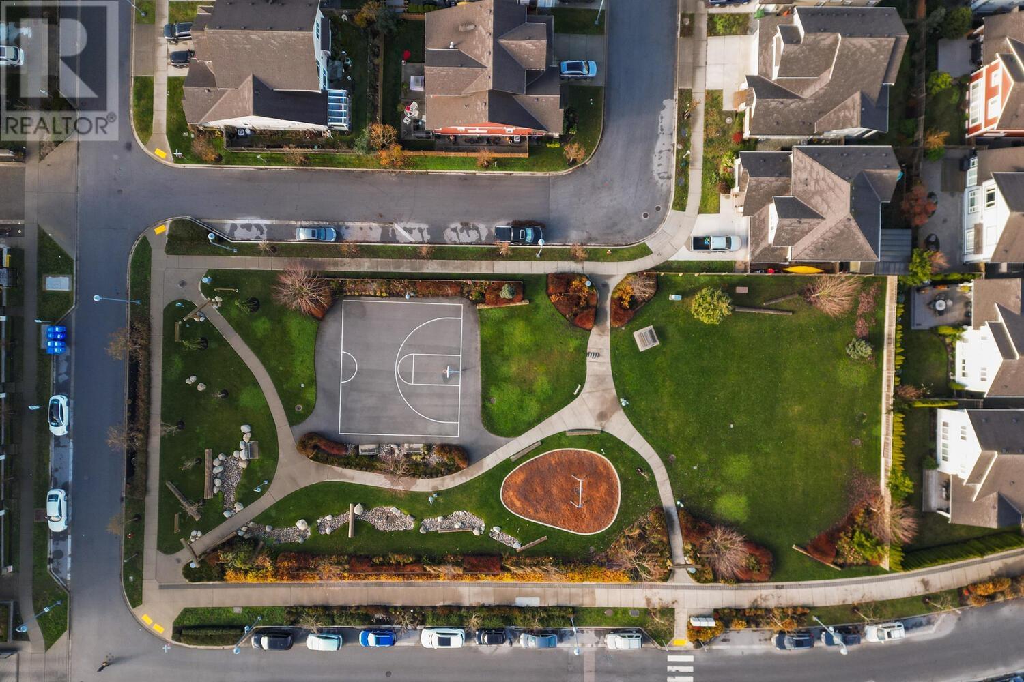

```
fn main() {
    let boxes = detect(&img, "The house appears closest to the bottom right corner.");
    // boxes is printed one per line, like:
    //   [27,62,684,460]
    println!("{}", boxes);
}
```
[936,408,1024,533]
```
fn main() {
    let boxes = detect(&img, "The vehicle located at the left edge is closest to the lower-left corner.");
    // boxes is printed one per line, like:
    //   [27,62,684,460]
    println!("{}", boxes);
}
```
[41,490,66,533]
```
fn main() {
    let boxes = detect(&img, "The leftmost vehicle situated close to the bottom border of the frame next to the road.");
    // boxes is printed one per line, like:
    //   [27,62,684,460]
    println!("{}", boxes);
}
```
[249,632,291,655]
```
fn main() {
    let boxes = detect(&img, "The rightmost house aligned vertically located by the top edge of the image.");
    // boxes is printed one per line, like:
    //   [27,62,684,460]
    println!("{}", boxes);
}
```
[965,5,1024,140]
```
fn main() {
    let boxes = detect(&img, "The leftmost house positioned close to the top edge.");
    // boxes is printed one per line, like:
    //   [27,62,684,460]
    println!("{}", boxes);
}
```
[179,0,333,128]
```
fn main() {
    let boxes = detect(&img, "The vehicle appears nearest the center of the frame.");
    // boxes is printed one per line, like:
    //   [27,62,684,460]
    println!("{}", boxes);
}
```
[494,222,543,244]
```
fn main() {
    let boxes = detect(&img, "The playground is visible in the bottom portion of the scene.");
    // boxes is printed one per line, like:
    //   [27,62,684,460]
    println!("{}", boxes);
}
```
[502,449,620,534]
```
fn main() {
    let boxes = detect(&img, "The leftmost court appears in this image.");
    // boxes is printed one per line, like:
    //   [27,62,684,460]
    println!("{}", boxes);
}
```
[291,297,516,470]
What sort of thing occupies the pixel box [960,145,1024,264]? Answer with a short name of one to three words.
house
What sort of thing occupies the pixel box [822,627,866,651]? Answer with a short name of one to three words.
vehicle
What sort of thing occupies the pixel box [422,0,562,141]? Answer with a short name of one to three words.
house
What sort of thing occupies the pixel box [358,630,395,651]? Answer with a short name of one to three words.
car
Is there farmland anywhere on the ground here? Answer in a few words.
No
